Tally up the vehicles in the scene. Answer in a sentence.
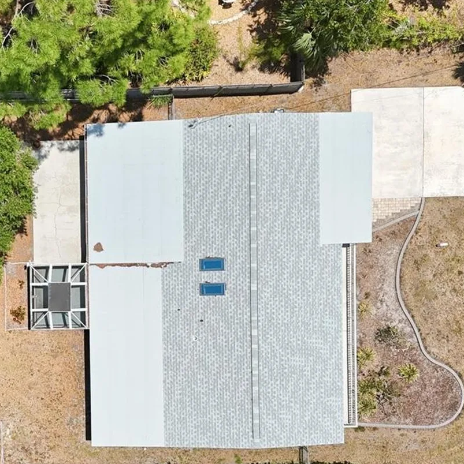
The count of vehicles is 0.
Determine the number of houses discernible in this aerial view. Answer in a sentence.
There is 1 house in the image.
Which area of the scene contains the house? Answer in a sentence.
The house sits in the center section of the image.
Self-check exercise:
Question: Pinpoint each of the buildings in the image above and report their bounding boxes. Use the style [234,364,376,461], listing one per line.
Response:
[85,107,373,449]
